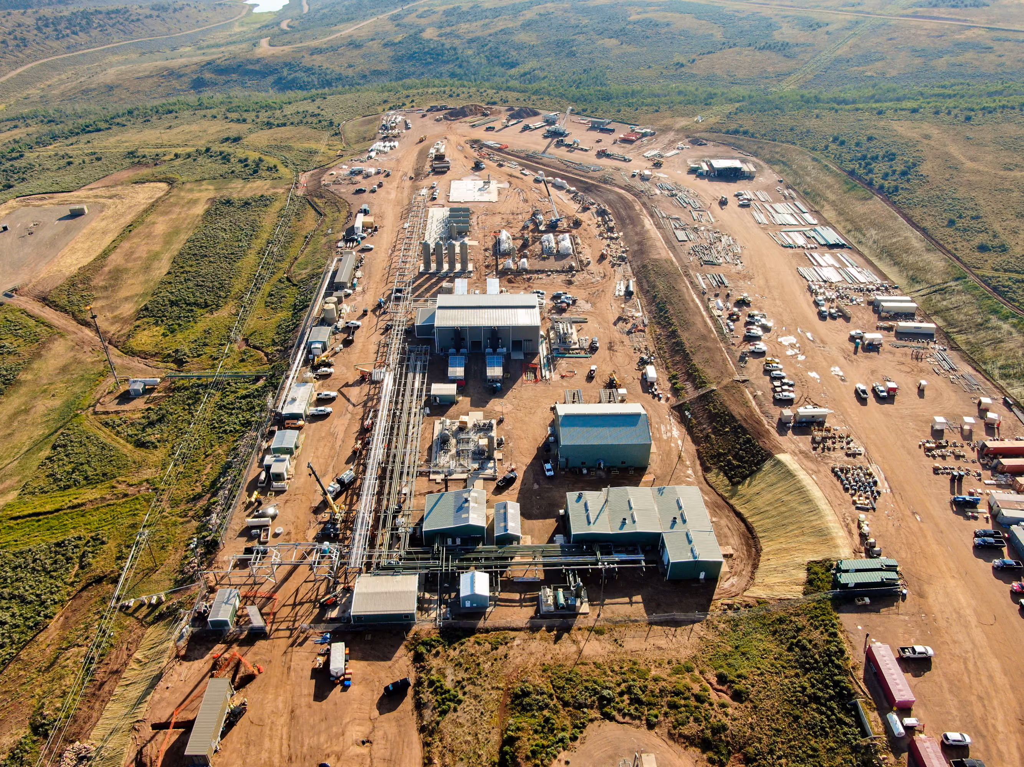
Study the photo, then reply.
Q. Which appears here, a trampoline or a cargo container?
cargo container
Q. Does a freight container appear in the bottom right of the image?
Yes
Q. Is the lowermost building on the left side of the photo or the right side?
left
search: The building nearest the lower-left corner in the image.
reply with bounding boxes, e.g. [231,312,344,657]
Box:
[183,677,241,767]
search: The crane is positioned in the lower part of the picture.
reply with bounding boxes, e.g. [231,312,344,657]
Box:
[305,459,358,540]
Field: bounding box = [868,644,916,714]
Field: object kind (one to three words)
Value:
shipping container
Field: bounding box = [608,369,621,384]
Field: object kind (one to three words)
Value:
vehicle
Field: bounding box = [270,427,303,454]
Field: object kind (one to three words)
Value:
building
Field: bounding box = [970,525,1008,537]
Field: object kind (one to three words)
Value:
vehicle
